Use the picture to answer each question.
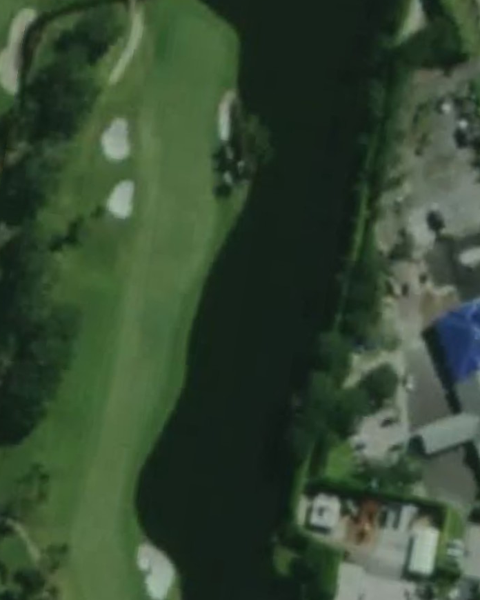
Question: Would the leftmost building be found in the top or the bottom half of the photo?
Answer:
bottom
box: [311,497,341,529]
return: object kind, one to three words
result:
building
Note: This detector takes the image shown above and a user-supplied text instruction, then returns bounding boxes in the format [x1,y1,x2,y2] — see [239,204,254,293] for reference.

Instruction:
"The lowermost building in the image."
[333,564,362,600]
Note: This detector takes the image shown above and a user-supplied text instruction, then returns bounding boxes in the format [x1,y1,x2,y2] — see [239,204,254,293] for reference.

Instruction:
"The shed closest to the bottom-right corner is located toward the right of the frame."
[410,532,440,575]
